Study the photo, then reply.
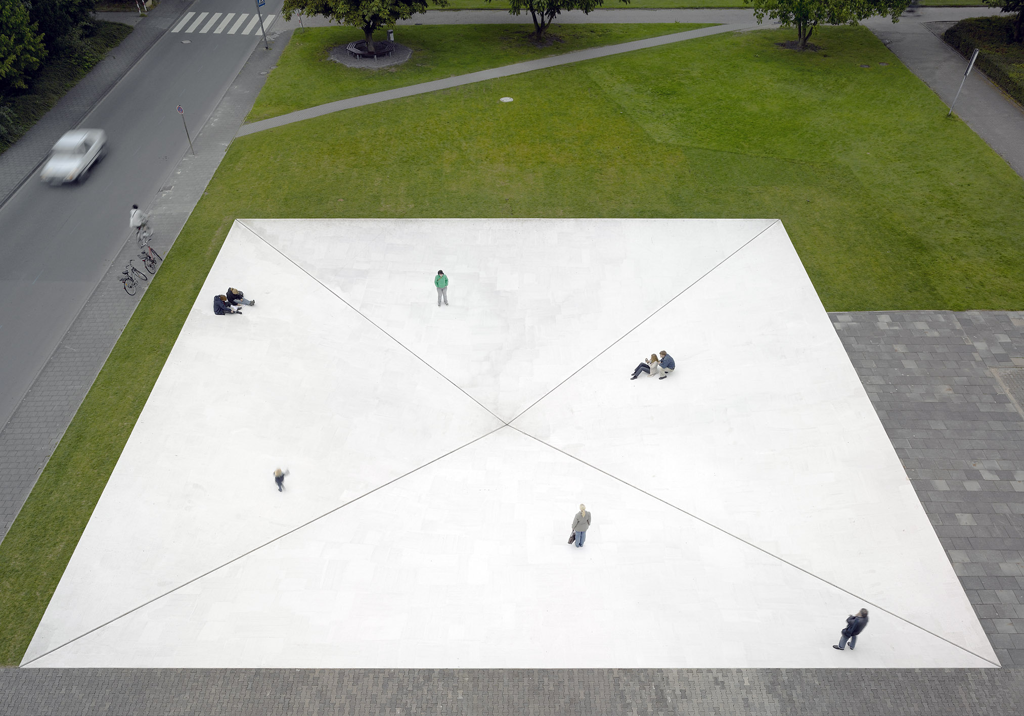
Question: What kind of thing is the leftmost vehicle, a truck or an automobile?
automobile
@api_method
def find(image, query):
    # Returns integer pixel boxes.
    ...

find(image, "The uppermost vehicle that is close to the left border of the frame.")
[38,132,106,184]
